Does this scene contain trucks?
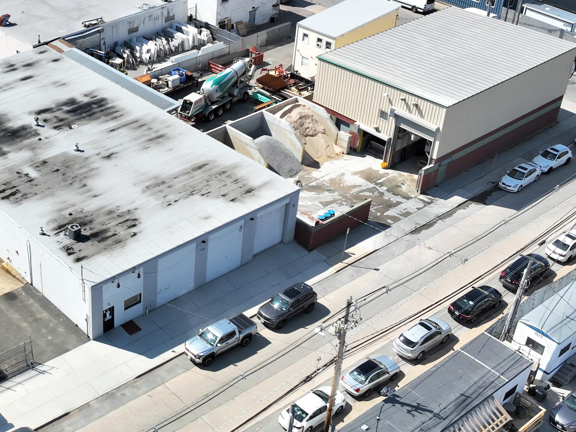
Yes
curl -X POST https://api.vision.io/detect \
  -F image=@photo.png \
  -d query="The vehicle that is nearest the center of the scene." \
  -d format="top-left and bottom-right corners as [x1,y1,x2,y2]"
[259,284,320,330]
